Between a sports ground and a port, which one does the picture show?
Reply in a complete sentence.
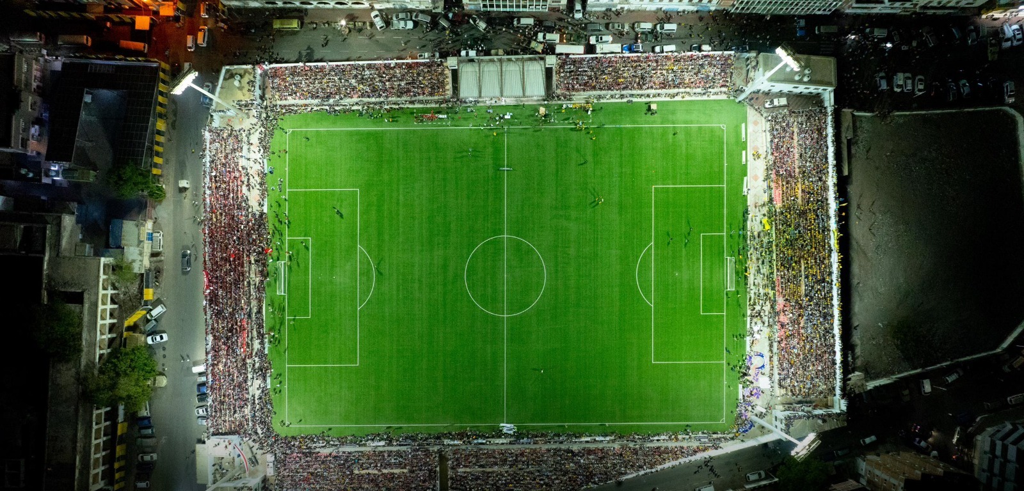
What you see here is a sports ground.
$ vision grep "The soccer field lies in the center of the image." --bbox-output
[267,98,748,438]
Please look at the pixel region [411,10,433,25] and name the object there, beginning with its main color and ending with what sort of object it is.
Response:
gray car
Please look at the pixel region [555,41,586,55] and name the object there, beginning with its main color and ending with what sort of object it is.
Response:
white vehicle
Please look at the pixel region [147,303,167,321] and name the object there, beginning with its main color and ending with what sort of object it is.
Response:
white car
